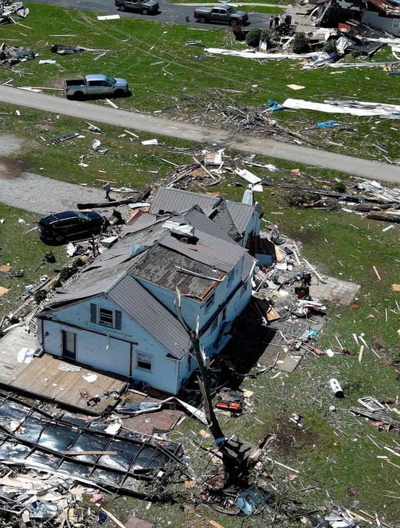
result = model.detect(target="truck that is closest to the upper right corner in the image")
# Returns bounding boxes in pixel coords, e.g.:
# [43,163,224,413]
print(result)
[191,1,247,25]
